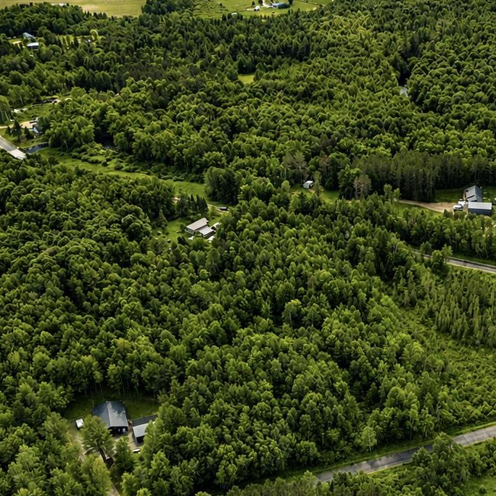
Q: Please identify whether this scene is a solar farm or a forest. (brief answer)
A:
forest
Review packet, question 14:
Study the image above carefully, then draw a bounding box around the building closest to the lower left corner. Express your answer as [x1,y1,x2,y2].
[90,400,132,447]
